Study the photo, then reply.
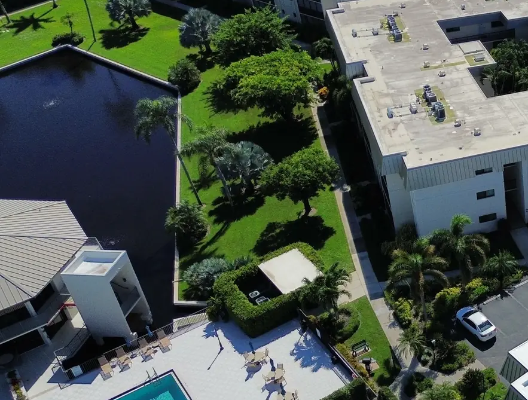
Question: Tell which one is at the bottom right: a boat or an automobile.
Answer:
automobile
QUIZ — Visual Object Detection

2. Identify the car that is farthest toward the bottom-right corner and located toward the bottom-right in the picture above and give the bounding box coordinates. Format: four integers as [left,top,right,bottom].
[455,307,501,344]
